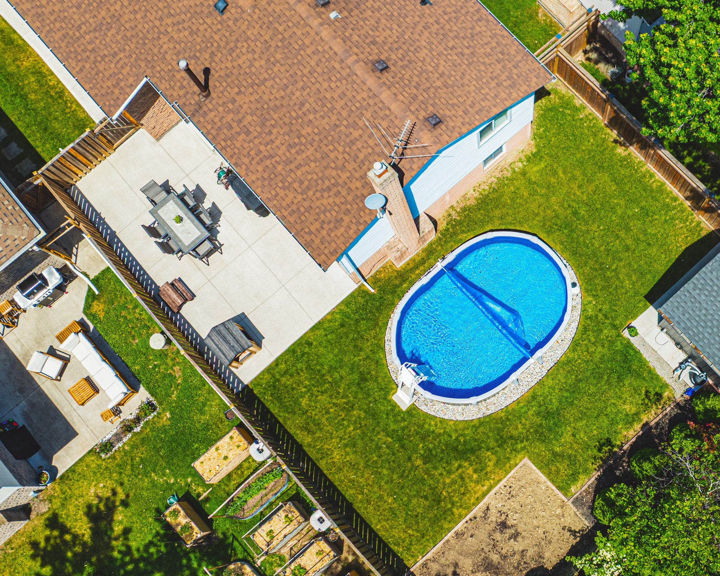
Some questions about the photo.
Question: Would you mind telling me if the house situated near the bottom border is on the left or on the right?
left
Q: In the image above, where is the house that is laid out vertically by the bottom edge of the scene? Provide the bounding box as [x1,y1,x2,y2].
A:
[0,432,47,547]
